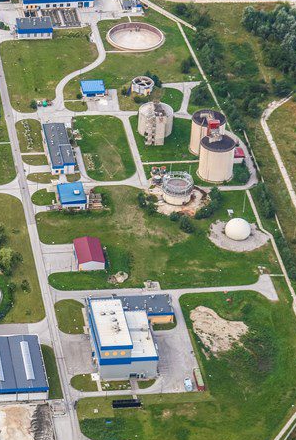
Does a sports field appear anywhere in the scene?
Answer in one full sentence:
No, the frame has no sports field in it.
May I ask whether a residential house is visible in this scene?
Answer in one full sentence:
Yes, a residential house is visible in the scene.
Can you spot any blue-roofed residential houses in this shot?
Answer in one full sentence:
Yes, there's a blue-roofed residential house down there.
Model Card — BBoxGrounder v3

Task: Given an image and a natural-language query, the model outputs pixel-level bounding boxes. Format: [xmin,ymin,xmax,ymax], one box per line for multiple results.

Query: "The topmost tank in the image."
[104,22,169,54]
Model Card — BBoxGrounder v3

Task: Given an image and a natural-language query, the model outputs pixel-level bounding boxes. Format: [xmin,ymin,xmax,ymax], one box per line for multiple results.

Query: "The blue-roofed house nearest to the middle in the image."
[55,183,88,214]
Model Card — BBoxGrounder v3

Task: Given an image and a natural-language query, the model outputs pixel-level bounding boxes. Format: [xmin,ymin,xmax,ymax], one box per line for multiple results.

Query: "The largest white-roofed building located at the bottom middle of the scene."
[80,286,175,389]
